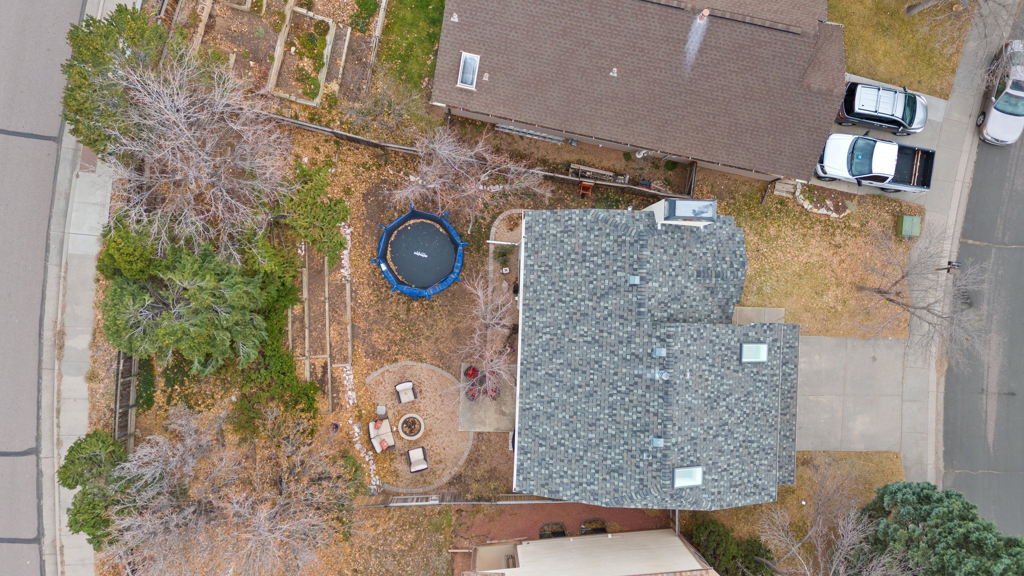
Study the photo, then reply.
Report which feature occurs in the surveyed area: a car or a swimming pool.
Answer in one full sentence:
The image shows a car.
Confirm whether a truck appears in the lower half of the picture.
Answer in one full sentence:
No, looking in the lower half of the picture, there is no truck.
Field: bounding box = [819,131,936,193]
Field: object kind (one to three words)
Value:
truck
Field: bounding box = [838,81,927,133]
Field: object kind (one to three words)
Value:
car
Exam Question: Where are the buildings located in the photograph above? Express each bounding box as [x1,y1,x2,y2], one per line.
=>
[510,198,802,516]
[430,0,848,185]
[463,530,713,576]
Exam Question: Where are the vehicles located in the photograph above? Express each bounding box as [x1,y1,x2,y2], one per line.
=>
[838,81,927,133]
[819,131,936,193]
[980,46,1024,149]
